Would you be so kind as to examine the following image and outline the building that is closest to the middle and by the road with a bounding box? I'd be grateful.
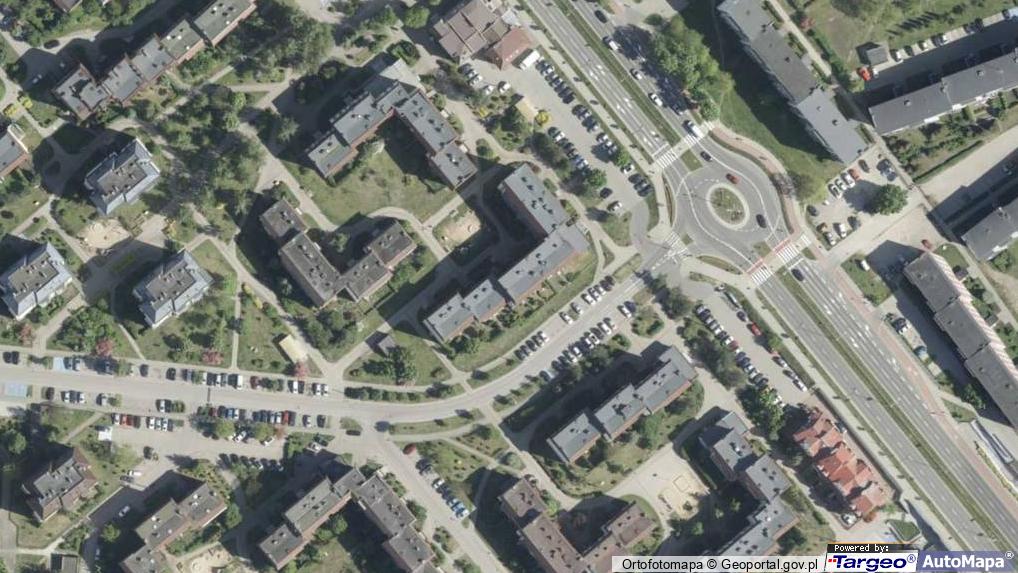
[421,164,590,349]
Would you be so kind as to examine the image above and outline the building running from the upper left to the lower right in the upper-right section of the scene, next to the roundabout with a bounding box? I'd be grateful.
[715,0,868,175]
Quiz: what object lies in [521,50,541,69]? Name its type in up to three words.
vehicle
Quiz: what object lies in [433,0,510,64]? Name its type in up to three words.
building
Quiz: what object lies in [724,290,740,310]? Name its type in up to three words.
vehicle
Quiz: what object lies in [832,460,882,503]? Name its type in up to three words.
house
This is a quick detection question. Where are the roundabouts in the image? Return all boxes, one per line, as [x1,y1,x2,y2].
[660,125,794,278]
